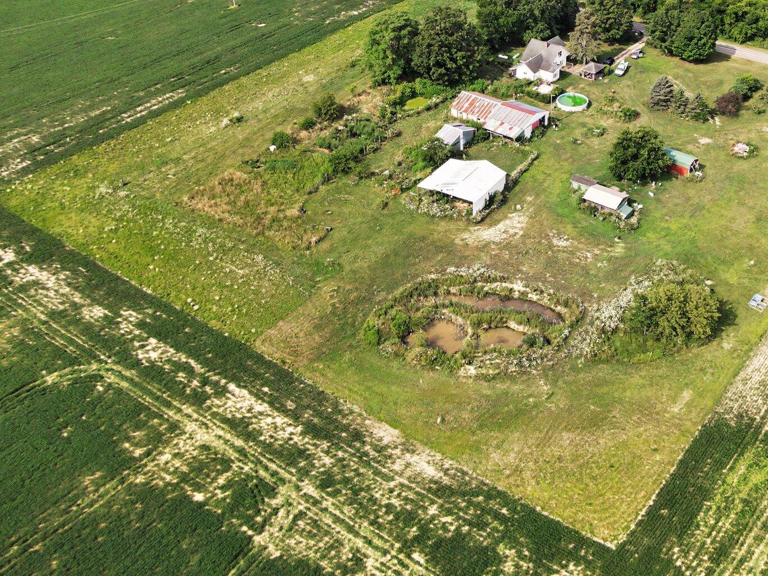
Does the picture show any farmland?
Yes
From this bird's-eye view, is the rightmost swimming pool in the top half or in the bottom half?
top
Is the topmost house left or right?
right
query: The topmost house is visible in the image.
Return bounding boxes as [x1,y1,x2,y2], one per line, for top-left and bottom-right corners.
[510,35,571,82]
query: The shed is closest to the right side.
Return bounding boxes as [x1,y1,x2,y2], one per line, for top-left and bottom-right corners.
[664,149,700,176]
